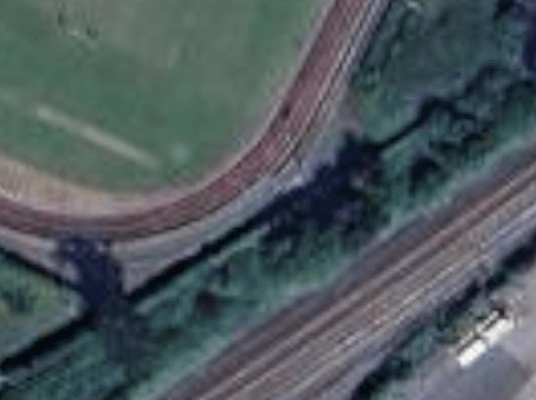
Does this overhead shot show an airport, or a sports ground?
sports ground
